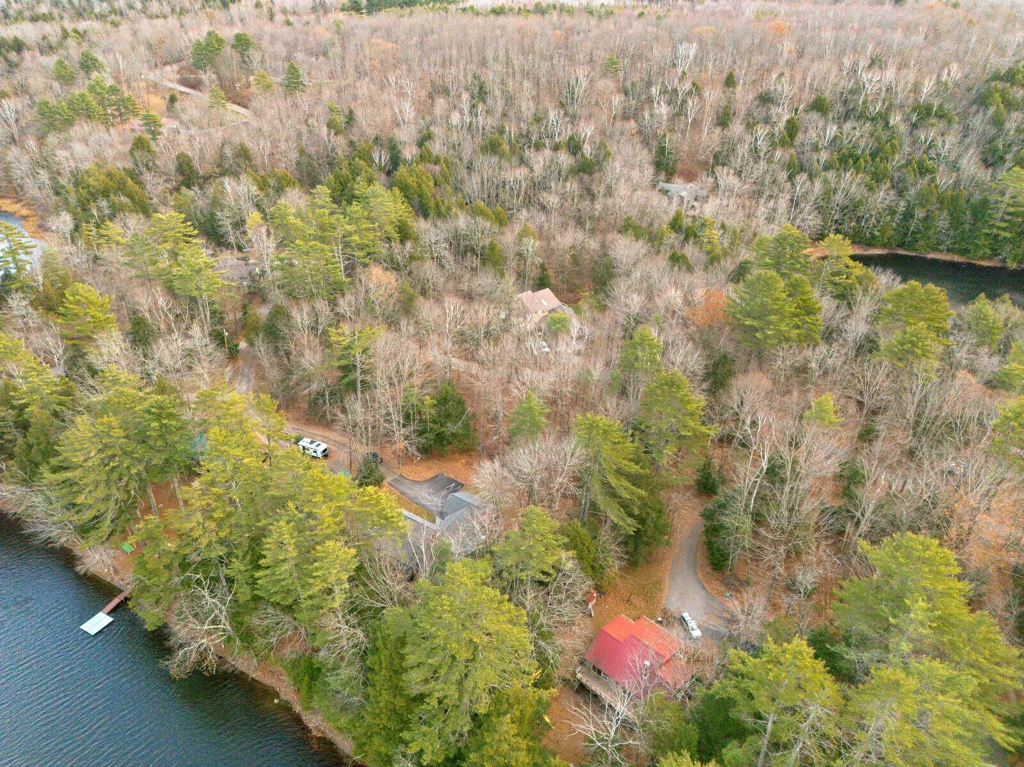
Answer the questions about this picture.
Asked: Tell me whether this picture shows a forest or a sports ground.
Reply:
forest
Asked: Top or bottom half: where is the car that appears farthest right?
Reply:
bottom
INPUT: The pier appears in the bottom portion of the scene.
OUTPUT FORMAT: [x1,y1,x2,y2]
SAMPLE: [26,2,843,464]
[77,584,139,636]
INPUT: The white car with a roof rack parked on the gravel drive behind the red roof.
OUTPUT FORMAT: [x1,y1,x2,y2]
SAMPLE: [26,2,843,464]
[679,609,706,642]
